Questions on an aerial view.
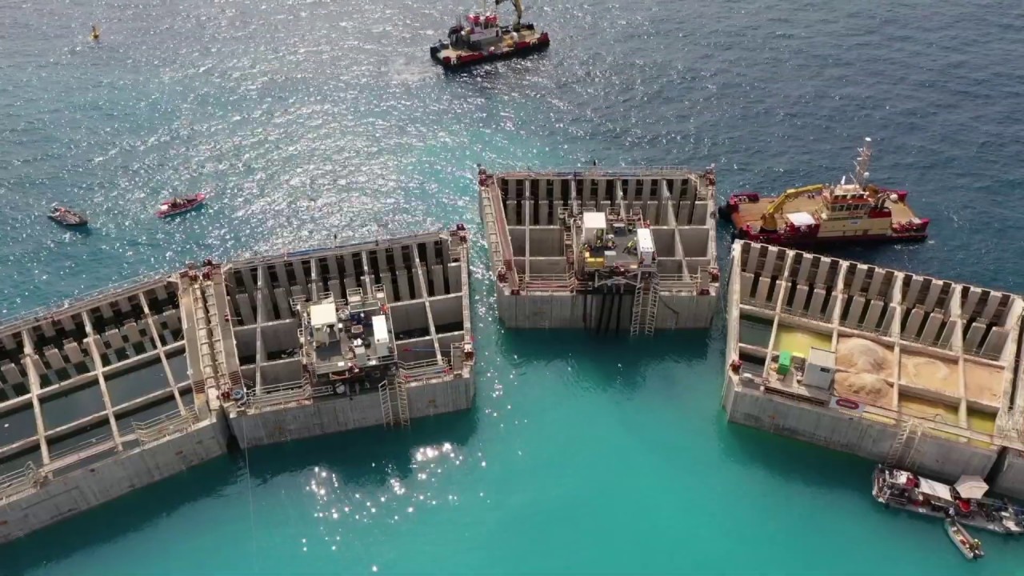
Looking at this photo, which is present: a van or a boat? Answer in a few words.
boat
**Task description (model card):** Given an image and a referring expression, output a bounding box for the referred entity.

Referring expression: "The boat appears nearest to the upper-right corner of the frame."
[722,143,933,256]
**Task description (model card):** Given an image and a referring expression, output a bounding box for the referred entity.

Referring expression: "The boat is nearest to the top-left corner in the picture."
[43,201,89,225]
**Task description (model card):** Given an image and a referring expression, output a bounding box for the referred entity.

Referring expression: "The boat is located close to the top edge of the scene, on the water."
[430,0,553,76]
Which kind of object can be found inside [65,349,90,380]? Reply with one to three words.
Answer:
pier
